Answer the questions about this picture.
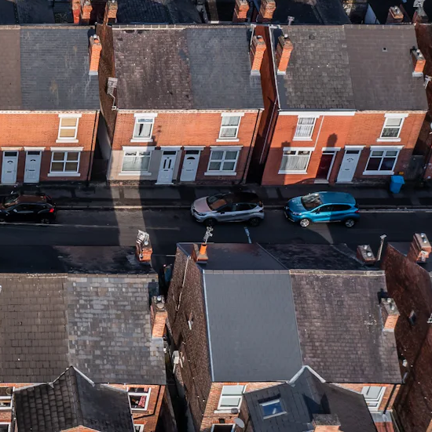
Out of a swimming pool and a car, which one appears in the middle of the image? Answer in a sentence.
Visible in the middle of the image is a car.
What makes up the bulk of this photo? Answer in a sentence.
The bulk of the photo consists of buildings.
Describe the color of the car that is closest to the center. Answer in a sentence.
The car that is closest to the center is black.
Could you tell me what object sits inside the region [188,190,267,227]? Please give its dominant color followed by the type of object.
black car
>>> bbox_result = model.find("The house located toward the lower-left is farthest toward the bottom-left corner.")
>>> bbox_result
[0,212,168,432]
